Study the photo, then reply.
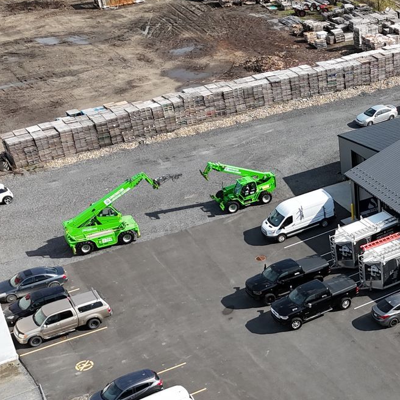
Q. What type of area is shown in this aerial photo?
parking lot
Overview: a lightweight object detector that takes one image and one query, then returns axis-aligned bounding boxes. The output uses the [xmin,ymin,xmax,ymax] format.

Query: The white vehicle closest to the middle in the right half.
[262,186,337,242]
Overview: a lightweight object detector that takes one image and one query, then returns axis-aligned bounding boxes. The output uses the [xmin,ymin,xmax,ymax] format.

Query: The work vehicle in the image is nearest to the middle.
[187,165,275,217]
